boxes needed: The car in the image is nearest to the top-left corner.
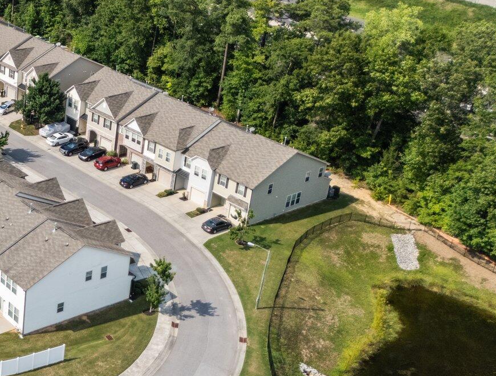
[0,98,21,111]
